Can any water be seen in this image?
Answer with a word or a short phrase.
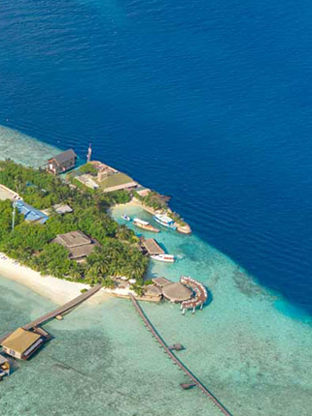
Yes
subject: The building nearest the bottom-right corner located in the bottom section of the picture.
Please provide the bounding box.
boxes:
[161,284,193,310]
